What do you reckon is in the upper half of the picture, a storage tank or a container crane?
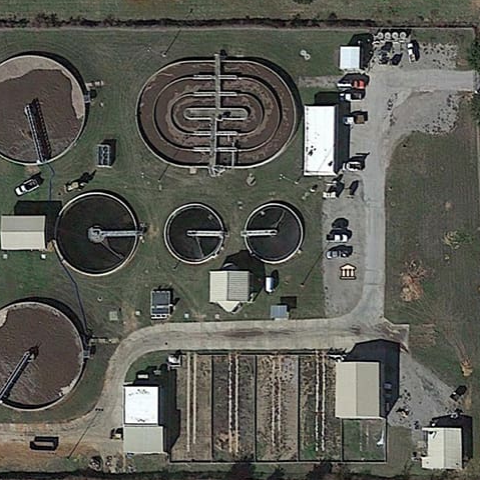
storage tank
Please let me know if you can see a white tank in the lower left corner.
No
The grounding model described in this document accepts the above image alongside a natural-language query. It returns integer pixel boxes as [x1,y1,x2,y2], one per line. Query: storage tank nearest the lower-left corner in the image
[0,301,92,410]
